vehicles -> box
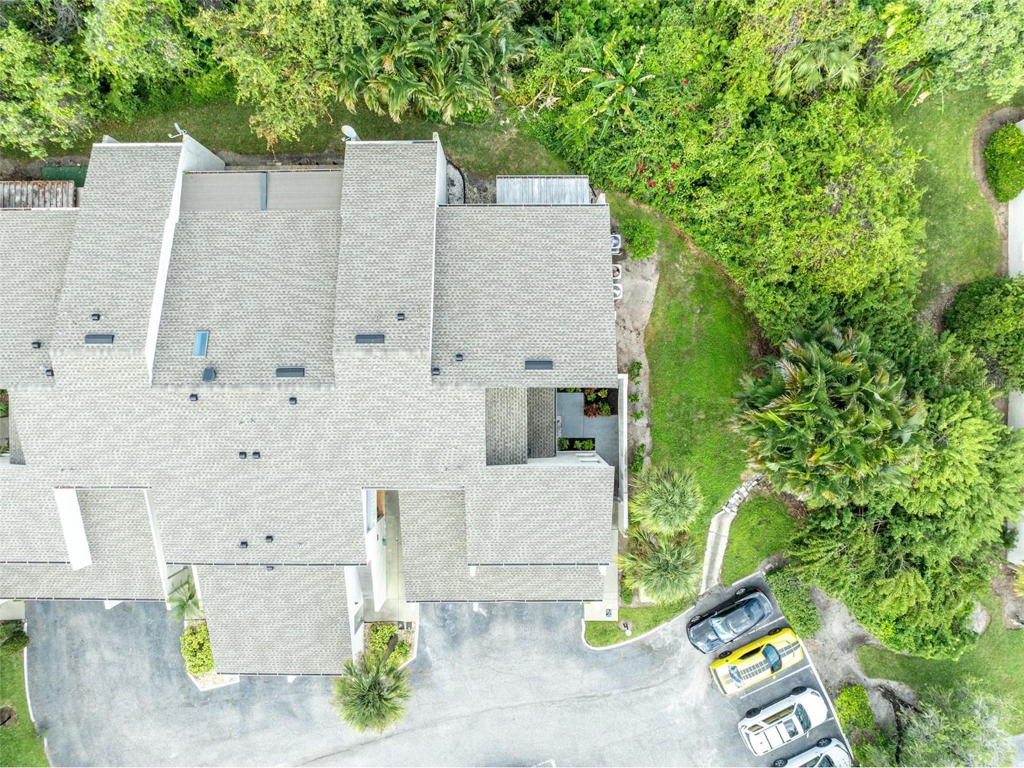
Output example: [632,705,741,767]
[687,588,777,656]
[711,627,803,701]
[739,686,834,759]
[772,737,860,768]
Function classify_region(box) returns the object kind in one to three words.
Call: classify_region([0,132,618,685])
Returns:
building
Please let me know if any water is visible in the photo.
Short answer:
No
